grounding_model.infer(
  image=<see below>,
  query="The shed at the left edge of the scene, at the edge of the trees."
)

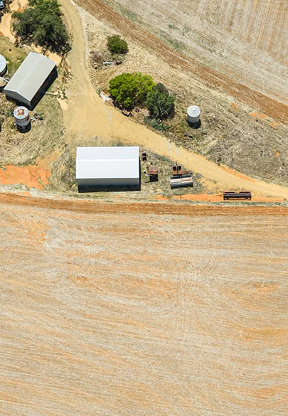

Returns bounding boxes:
[2,51,57,106]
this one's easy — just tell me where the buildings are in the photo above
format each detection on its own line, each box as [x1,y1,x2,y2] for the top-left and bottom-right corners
[76,146,139,187]
[2,51,57,106]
